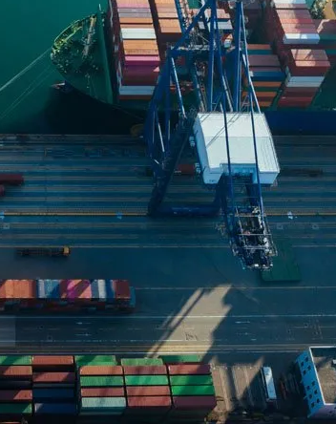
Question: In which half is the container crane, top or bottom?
top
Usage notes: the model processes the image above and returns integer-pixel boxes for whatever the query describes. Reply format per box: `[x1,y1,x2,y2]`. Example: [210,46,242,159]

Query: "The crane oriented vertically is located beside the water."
[136,0,280,271]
